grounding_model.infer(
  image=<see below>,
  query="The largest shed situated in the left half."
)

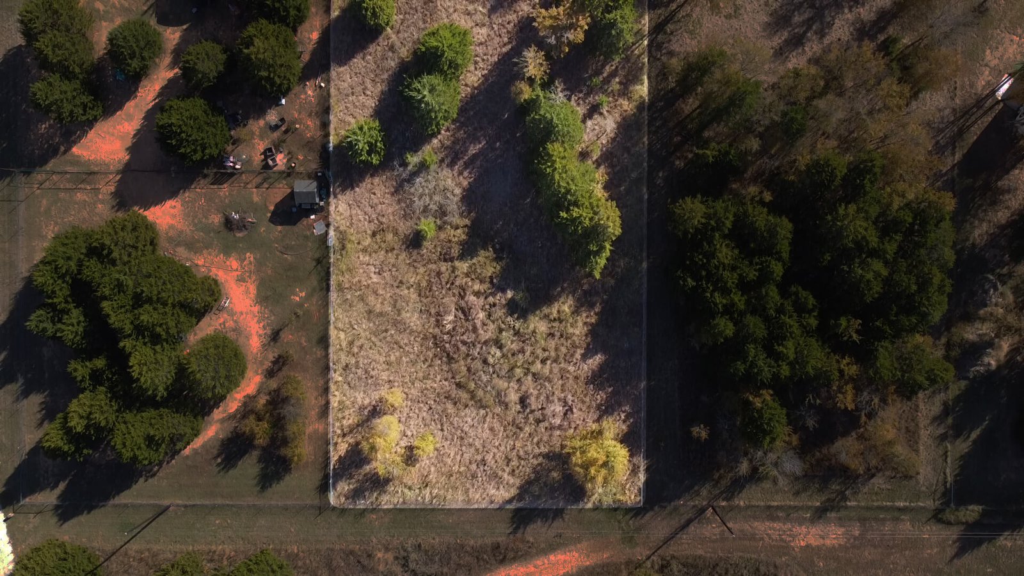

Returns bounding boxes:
[293,181,322,205]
